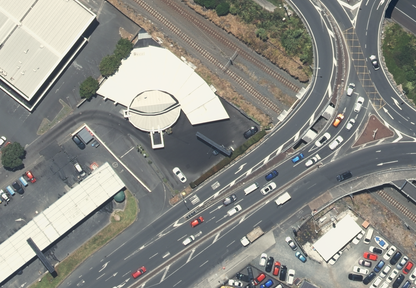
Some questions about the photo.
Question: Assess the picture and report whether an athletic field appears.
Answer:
No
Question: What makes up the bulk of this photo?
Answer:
paved ground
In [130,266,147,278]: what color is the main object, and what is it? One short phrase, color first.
red vehicle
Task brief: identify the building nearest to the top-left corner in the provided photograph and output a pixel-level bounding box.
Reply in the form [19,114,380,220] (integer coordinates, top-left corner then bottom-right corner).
[0,0,98,102]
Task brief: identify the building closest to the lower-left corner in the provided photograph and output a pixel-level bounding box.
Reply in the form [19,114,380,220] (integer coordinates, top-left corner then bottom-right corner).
[0,162,126,283]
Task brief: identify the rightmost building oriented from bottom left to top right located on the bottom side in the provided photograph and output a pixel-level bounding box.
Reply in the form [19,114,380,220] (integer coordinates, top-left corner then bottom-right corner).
[314,214,362,262]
